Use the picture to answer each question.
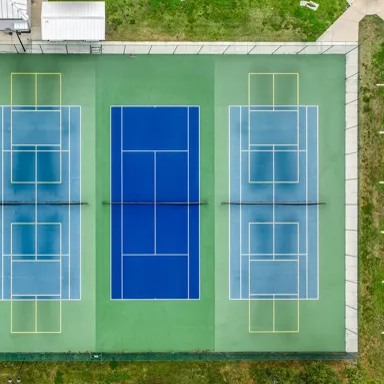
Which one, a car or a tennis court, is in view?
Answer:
tennis court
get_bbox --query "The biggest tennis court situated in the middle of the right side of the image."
[215,54,346,352]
